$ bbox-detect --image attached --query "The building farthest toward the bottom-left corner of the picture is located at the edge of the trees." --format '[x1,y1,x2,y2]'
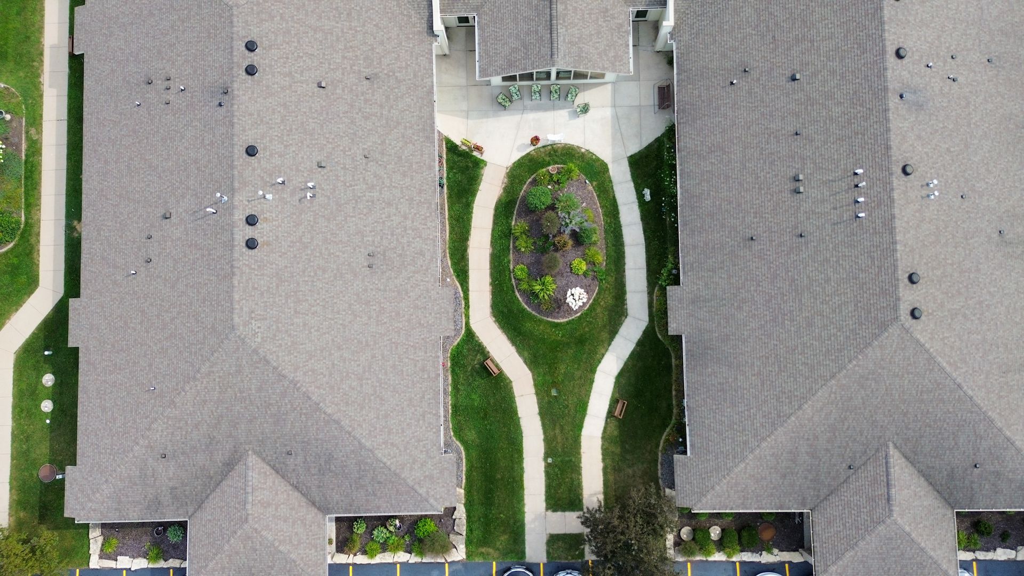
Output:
[65,0,458,576]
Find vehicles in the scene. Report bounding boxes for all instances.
[755,571,782,576]
[502,564,535,576]
[957,568,975,576]
[552,568,580,576]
